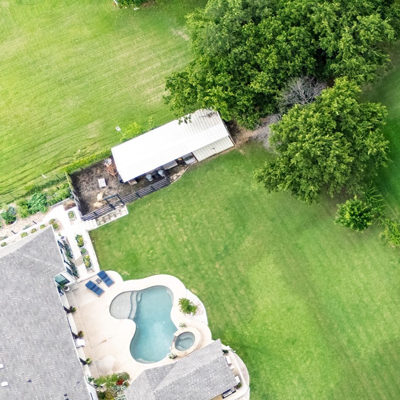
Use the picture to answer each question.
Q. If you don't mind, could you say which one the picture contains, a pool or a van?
pool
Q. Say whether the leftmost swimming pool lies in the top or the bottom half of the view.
bottom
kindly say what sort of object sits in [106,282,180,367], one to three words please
swimming pool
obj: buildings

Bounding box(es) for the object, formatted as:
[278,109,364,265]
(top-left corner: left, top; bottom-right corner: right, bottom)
[125,339,240,400]
[0,224,97,400]
[112,110,231,193]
